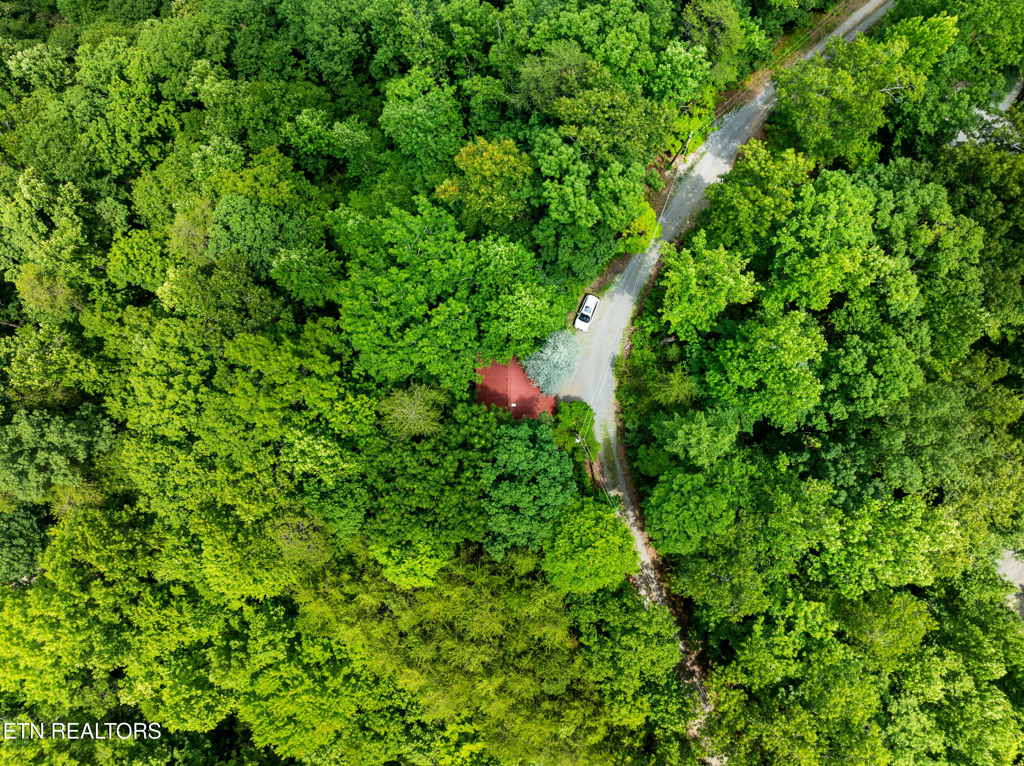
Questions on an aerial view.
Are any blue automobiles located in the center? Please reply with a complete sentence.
No, no blue automobile appears in the center.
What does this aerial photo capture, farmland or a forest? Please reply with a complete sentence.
This image shows a forest.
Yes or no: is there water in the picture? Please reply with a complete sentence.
No, there is no water in the image.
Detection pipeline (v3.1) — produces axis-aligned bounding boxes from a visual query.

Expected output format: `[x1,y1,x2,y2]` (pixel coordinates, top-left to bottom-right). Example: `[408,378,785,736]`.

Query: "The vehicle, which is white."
[575,294,600,332]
